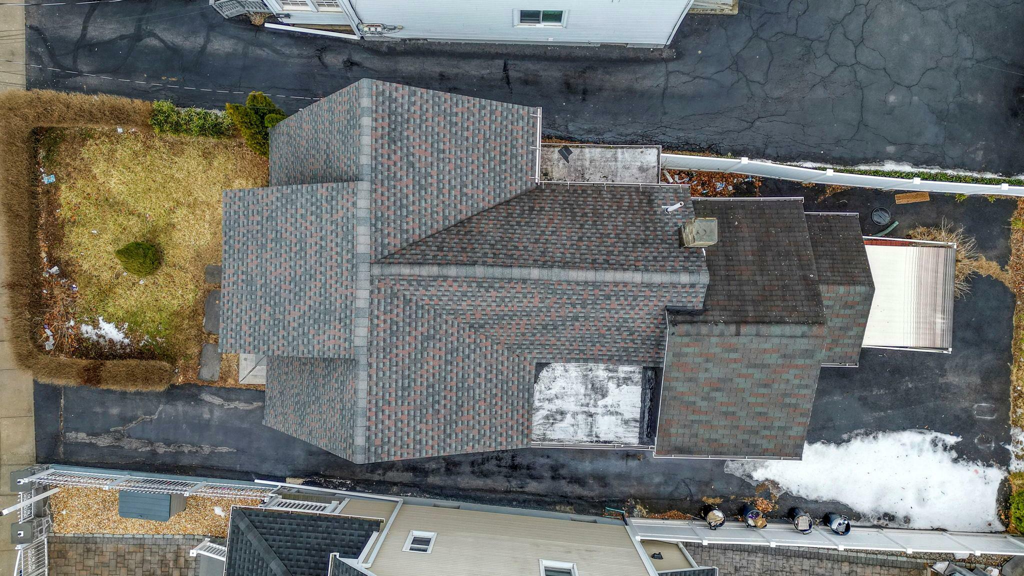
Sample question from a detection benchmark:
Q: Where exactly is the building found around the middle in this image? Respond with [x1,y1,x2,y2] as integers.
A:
[218,78,959,465]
